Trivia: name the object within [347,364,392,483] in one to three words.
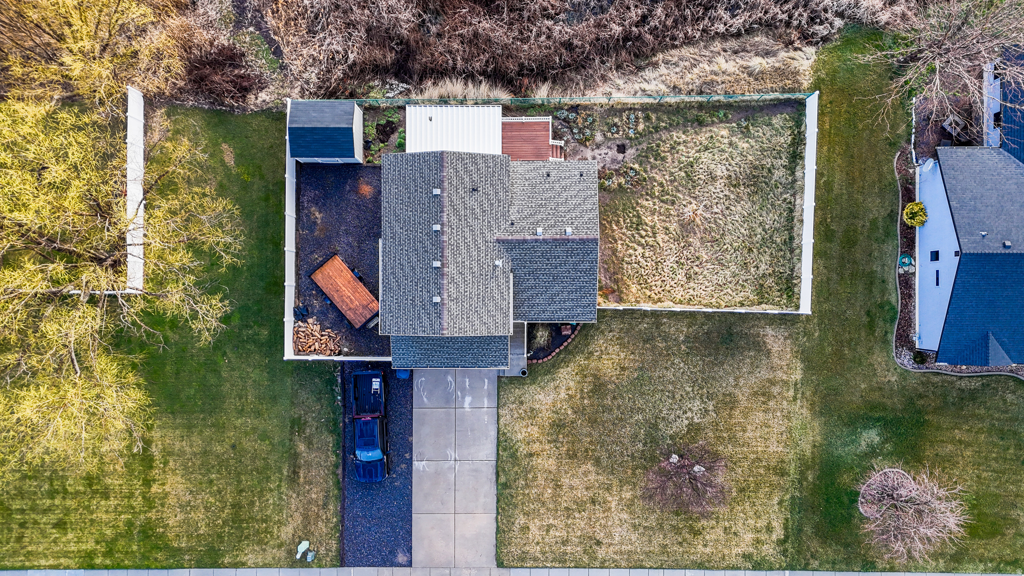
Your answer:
truck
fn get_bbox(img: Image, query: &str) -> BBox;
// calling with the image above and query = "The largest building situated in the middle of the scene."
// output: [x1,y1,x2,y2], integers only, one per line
[378,150,601,372]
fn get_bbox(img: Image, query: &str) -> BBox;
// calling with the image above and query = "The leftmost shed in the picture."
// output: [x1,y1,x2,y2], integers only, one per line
[284,99,364,163]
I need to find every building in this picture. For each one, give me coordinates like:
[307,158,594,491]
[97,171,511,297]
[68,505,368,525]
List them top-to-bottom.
[915,43,1024,367]
[284,99,364,163]
[378,150,601,372]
